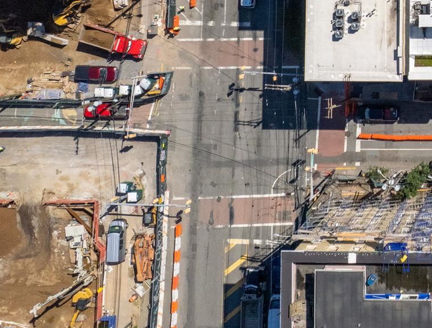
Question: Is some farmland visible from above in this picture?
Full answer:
No, no farmland is visible.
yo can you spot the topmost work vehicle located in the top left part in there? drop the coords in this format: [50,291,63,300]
[55,0,79,31]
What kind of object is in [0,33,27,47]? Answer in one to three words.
vehicle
